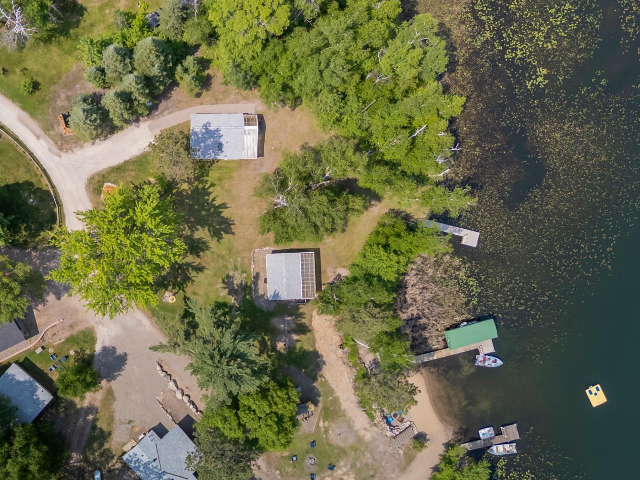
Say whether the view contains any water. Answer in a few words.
Yes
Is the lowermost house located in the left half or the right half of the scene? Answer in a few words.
left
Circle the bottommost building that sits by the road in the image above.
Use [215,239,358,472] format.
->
[122,425,203,480]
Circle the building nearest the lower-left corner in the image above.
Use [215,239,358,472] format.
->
[0,363,54,422]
